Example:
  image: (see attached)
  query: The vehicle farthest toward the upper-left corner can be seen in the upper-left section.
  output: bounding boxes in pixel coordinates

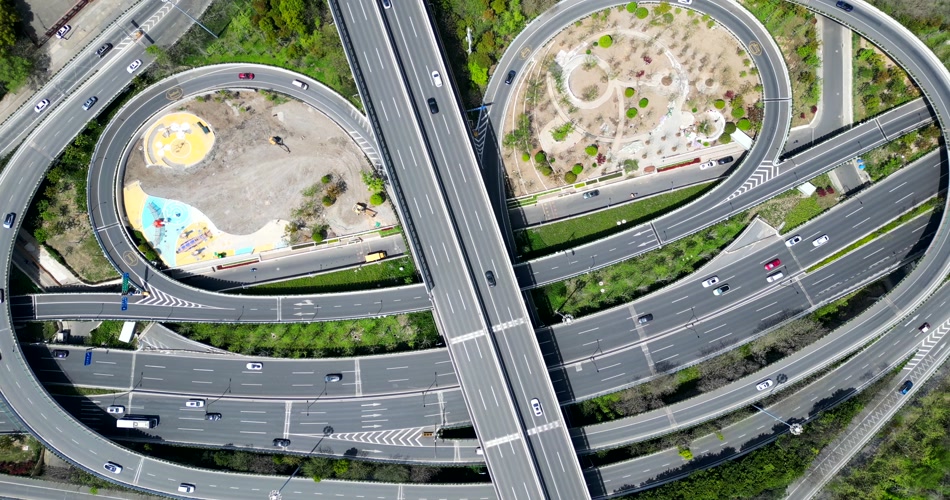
[57,24,71,39]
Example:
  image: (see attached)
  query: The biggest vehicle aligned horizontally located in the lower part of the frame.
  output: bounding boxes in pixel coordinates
[115,416,162,429]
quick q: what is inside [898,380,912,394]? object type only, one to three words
vehicle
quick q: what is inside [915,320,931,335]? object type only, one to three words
car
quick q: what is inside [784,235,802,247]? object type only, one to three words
vehicle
